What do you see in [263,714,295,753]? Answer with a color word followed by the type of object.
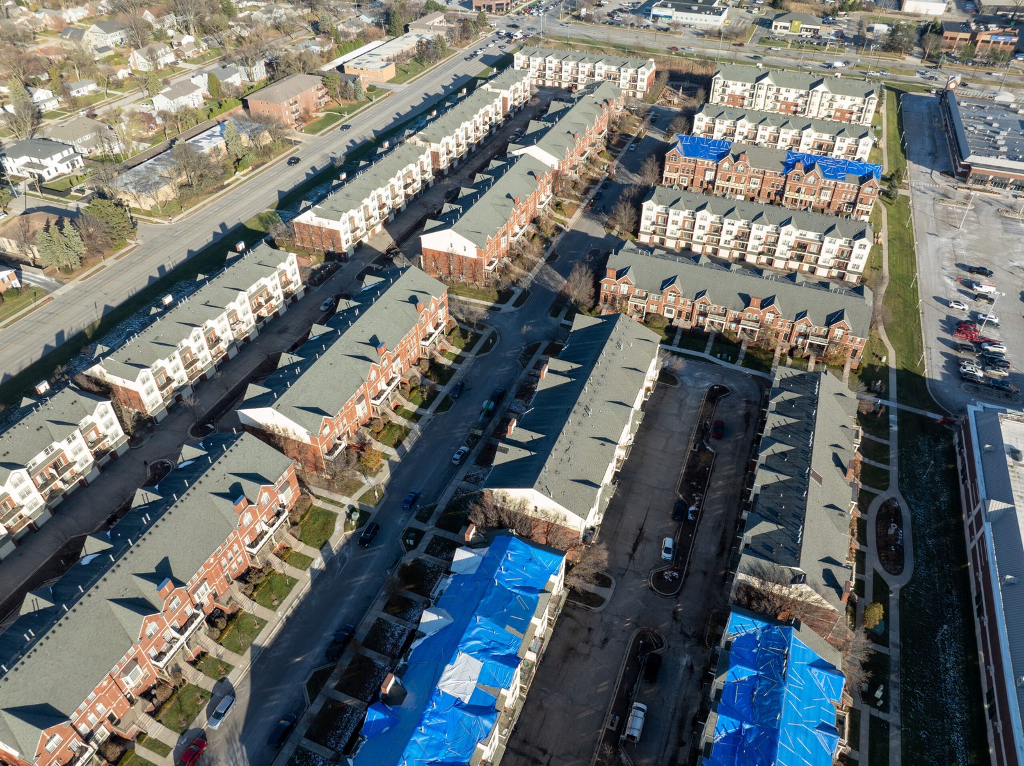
black car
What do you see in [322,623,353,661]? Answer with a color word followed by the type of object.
black truck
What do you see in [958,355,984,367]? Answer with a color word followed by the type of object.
gray vehicle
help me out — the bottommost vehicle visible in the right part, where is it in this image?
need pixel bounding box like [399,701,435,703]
[623,700,649,744]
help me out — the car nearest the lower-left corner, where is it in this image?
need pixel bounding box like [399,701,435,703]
[173,732,208,766]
